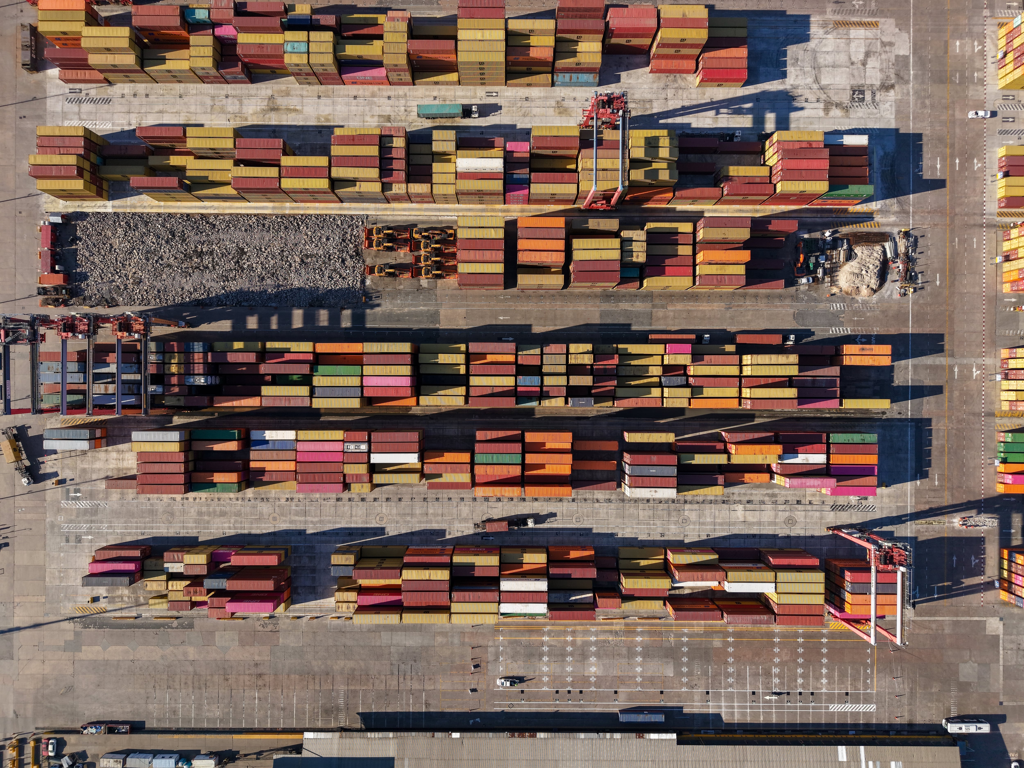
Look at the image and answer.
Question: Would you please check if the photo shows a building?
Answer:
Yes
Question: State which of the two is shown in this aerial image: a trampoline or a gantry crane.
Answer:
gantry crane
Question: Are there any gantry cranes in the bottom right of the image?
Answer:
Yes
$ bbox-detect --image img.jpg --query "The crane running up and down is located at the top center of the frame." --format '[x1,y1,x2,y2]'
[577,84,635,214]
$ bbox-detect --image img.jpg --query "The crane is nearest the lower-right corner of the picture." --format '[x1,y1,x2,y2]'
[823,530,911,649]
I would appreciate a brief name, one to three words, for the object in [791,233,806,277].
work vehicle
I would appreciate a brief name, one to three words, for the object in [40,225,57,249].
building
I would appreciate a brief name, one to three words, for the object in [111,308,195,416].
container crane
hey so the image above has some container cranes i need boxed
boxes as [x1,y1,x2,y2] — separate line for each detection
[56,308,143,416]
[0,308,89,415]
[111,308,195,416]
[577,84,635,214]
[823,530,911,649]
